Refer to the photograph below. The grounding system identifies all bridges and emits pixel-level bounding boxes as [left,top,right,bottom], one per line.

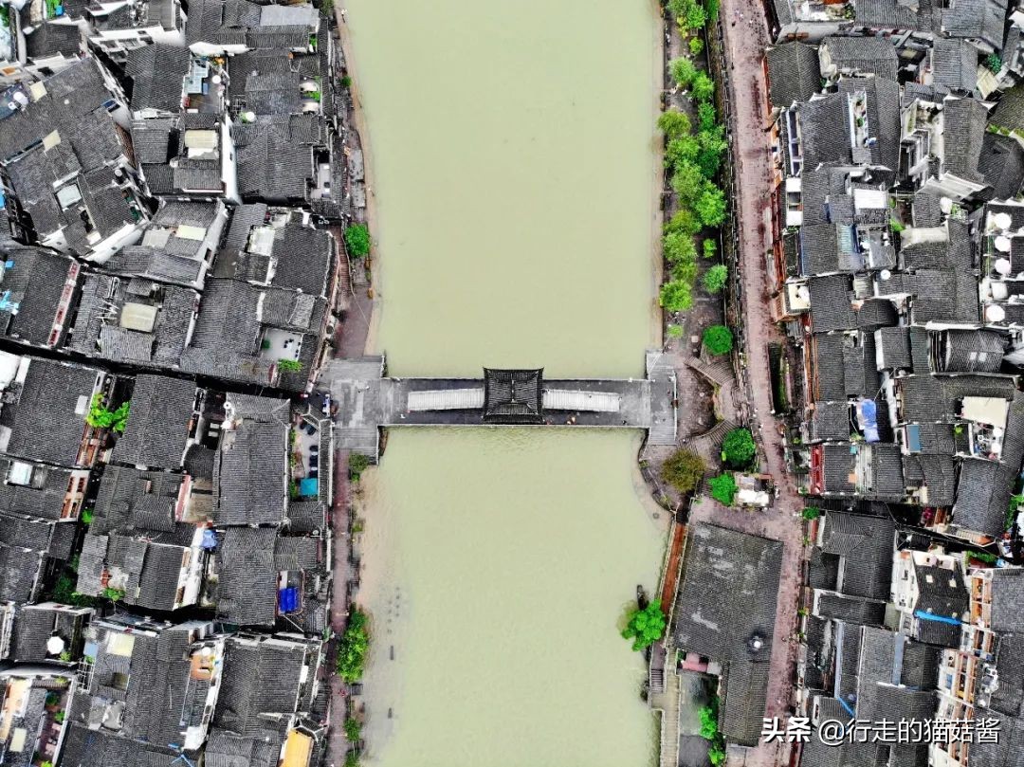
[331,349,679,450]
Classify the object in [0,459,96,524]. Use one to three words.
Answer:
house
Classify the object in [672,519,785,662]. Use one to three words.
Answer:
building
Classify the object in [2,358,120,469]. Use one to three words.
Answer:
house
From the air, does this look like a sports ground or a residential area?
residential area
